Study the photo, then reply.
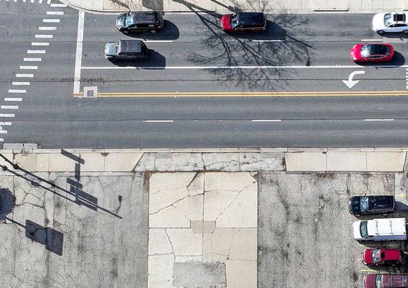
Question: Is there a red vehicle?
Yes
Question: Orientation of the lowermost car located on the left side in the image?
from left to right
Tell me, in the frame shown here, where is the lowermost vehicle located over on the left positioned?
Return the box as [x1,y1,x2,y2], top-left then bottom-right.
[105,40,148,62]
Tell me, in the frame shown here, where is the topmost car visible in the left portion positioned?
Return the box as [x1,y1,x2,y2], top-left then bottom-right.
[118,11,164,35]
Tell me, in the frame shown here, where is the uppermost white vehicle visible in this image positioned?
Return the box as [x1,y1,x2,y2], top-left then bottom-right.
[372,11,408,35]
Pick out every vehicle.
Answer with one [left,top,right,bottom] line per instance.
[349,195,395,217]
[221,11,267,35]
[105,40,148,62]
[362,248,404,267]
[354,219,408,241]
[350,42,394,64]
[364,273,408,288]
[118,11,164,35]
[372,11,408,35]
